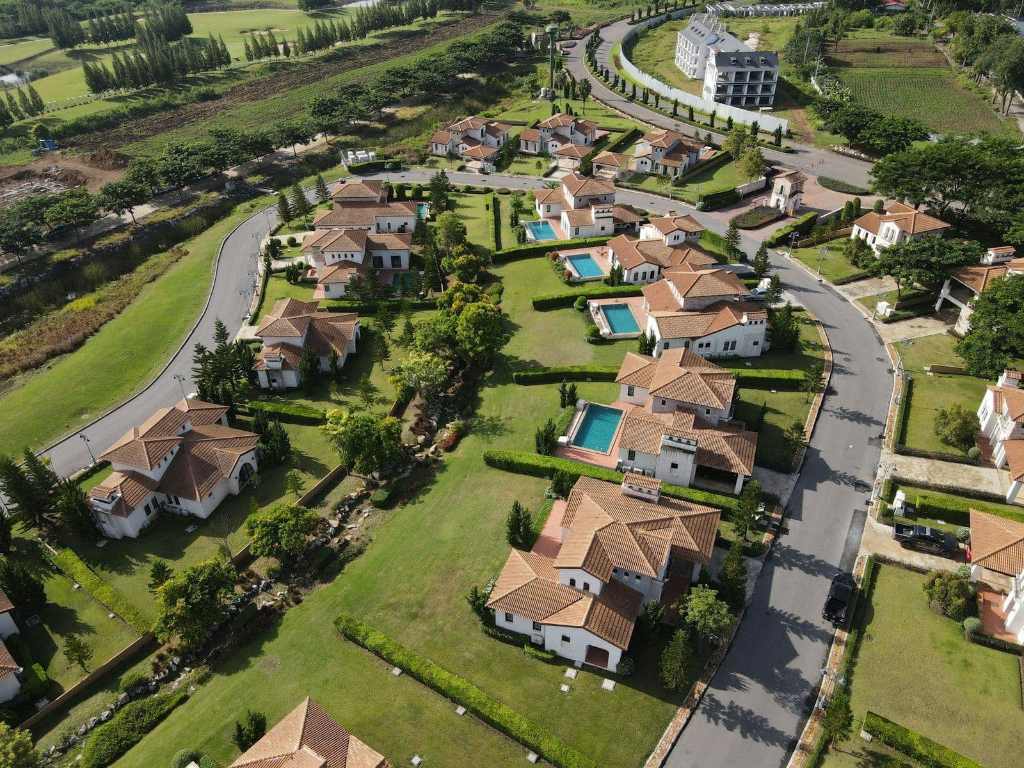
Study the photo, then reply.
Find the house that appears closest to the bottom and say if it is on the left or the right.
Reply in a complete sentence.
The house that appears closest to the bottom sits on the left side.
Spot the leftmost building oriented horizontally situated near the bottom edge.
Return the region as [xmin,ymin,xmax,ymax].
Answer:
[223,694,396,768]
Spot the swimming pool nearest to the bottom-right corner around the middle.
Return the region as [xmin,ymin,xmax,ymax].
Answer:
[555,391,626,454]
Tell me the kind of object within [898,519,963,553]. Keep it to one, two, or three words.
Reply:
truck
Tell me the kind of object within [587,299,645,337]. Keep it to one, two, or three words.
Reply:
swimming pool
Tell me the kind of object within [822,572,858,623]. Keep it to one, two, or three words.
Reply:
truck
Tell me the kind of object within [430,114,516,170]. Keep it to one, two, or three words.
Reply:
house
